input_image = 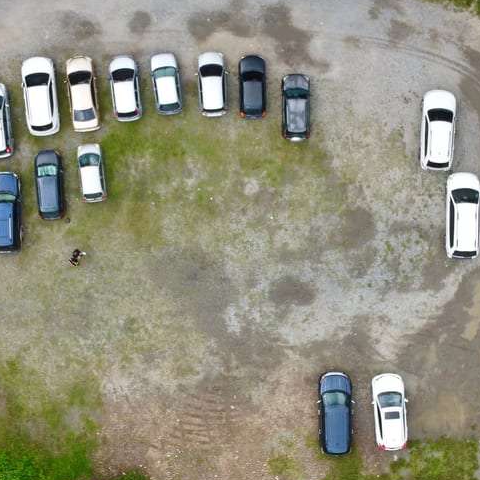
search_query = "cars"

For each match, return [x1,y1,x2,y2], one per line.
[195,51,227,119]
[0,171,23,253]
[64,55,101,133]
[149,52,182,116]
[21,56,61,138]
[0,83,14,160]
[237,55,269,120]
[280,74,313,141]
[319,371,355,455]
[32,150,66,220]
[108,55,142,123]
[420,89,458,171]
[372,371,408,451]
[75,143,107,203]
